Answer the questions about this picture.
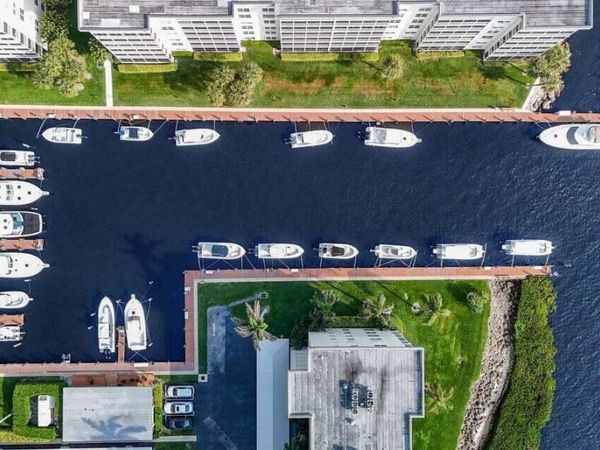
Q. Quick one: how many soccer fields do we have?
0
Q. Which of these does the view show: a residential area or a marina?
marina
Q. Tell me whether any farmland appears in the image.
No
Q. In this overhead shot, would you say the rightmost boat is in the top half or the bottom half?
top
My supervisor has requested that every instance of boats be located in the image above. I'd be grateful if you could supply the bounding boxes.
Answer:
[0,180,49,206]
[248,243,304,259]
[0,253,50,278]
[167,129,220,146]
[369,244,417,259]
[98,296,115,361]
[123,294,147,353]
[42,127,91,144]
[0,290,33,309]
[0,210,49,237]
[429,243,483,258]
[496,240,555,255]
[282,131,333,148]
[111,126,155,141]
[356,128,423,148]
[0,151,45,166]
[0,326,31,340]
[189,242,246,260]
[538,123,600,151]
[309,243,359,258]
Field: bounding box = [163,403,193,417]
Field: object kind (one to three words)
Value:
car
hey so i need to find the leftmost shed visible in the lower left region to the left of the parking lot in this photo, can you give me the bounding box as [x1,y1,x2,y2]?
[38,395,56,427]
